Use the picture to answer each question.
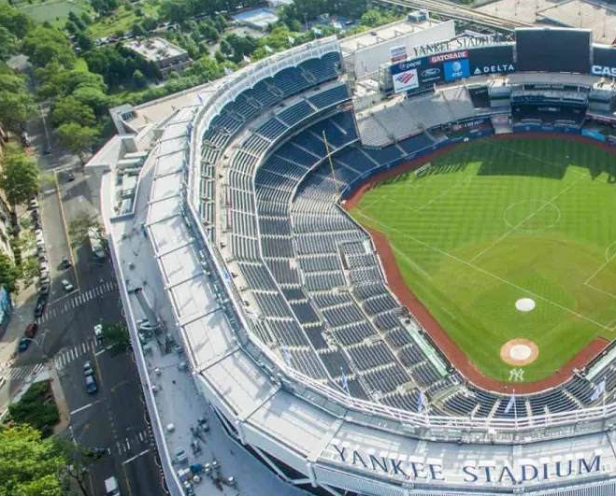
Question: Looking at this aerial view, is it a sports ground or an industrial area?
sports ground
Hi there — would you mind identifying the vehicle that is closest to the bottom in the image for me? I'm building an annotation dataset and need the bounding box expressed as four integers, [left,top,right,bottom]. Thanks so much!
[101,472,119,496]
